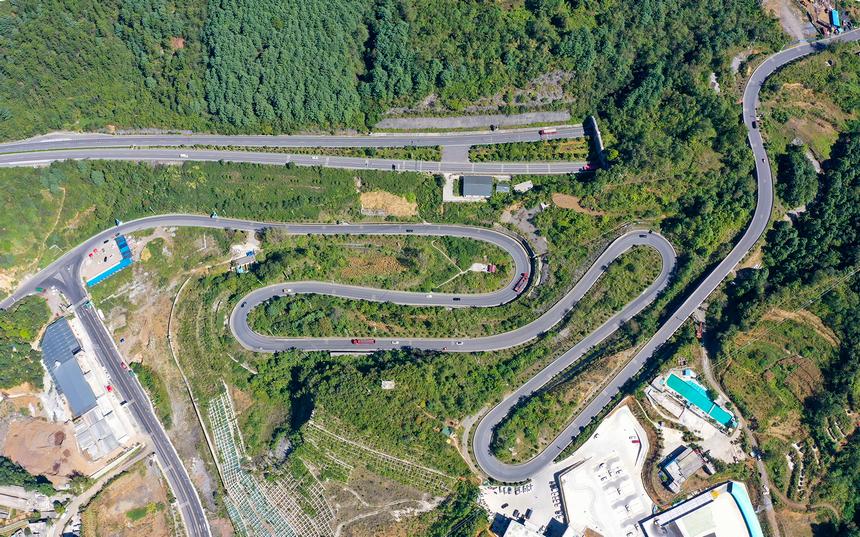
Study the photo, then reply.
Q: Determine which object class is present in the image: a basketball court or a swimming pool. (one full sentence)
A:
The one in the frame is a swimming pool.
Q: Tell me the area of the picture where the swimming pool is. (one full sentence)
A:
The swimming pool is in the bottom right part of the image.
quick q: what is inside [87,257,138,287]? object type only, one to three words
building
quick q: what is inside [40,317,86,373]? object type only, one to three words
shed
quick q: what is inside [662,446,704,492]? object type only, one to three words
house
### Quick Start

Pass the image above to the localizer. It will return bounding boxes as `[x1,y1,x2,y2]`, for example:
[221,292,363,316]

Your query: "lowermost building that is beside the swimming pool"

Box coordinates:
[638,477,763,537]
